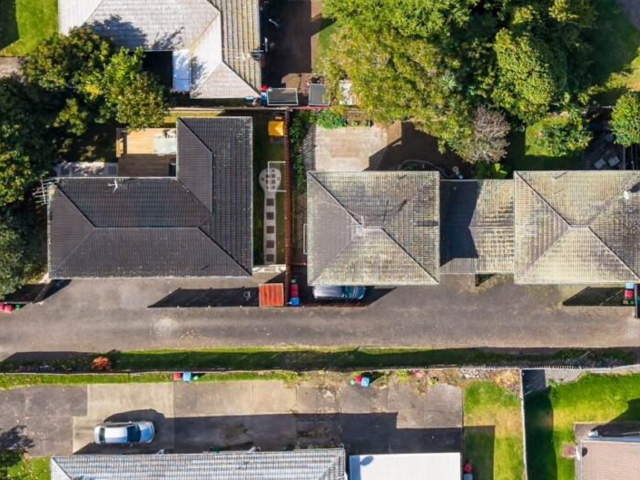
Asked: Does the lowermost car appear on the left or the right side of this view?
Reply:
left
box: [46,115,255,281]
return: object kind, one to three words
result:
house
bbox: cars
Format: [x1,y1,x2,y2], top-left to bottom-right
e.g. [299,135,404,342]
[311,288,368,304]
[89,421,154,450]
